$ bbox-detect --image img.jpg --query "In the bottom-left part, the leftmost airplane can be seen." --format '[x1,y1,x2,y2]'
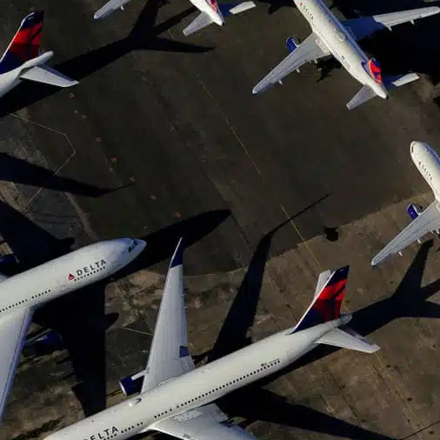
[0,236,145,424]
